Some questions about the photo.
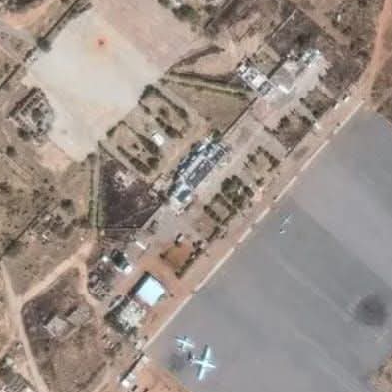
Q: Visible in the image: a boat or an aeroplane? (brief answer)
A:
aeroplane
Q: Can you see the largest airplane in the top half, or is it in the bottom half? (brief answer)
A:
bottom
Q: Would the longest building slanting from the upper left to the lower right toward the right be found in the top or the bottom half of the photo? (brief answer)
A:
top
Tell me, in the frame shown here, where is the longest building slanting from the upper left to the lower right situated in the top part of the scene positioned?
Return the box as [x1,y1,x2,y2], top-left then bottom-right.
[241,63,272,96]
